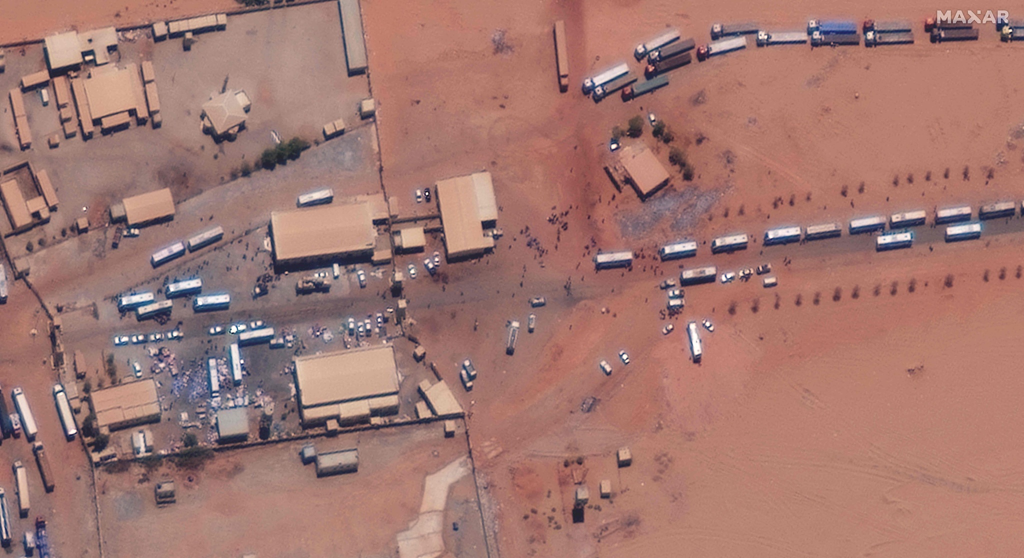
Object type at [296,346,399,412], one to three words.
building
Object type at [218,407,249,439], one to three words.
shed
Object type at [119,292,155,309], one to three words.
vehicle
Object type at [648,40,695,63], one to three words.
truck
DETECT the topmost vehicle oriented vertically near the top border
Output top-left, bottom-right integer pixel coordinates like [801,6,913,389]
[555,21,569,87]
